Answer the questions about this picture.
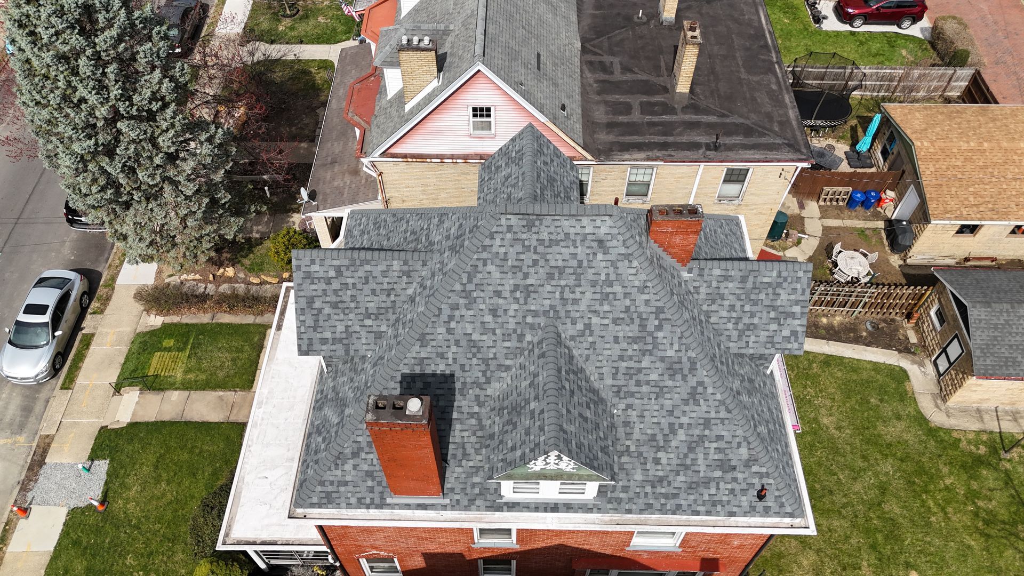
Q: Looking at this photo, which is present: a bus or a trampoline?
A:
trampoline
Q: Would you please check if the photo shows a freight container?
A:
No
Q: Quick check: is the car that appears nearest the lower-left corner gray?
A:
Yes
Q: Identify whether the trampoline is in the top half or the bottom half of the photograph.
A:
top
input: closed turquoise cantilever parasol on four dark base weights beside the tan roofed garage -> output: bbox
[838,111,880,169]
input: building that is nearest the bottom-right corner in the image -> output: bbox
[910,266,1024,405]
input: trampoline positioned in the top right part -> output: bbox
[780,51,871,135]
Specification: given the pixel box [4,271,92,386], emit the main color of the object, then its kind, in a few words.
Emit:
gray car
